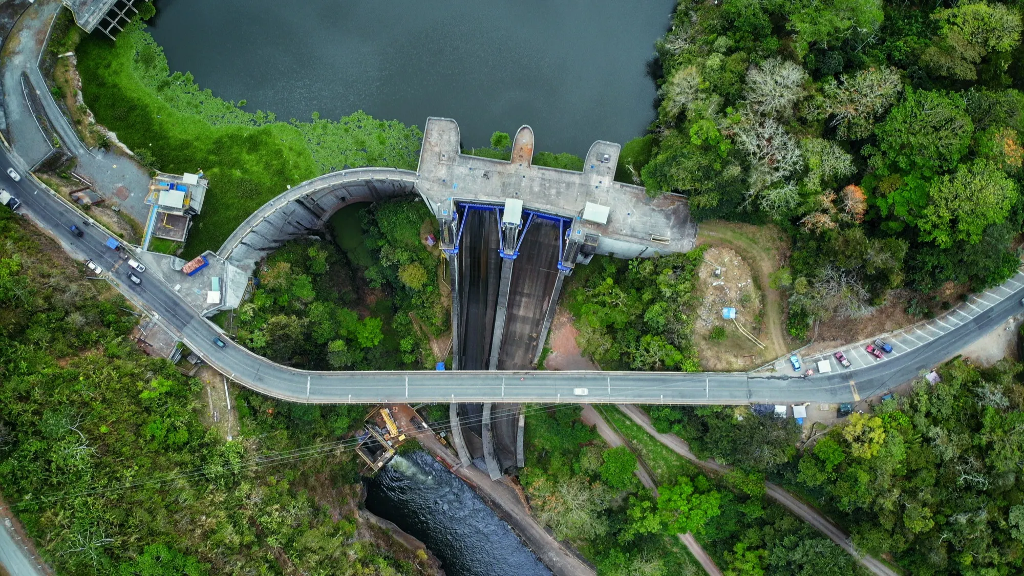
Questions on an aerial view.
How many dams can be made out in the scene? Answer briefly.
2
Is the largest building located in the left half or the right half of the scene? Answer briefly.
left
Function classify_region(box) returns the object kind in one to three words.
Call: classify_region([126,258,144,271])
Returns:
vehicle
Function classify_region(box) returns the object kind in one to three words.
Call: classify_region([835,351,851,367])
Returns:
vehicle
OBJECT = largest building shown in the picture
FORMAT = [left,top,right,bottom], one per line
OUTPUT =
[143,169,209,216]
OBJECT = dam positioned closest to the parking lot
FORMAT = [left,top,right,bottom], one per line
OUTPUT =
[416,116,697,276]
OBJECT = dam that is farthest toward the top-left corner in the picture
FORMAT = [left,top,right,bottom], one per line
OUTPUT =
[216,166,420,259]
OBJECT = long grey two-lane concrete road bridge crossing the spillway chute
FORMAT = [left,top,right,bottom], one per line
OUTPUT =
[184,317,751,408]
